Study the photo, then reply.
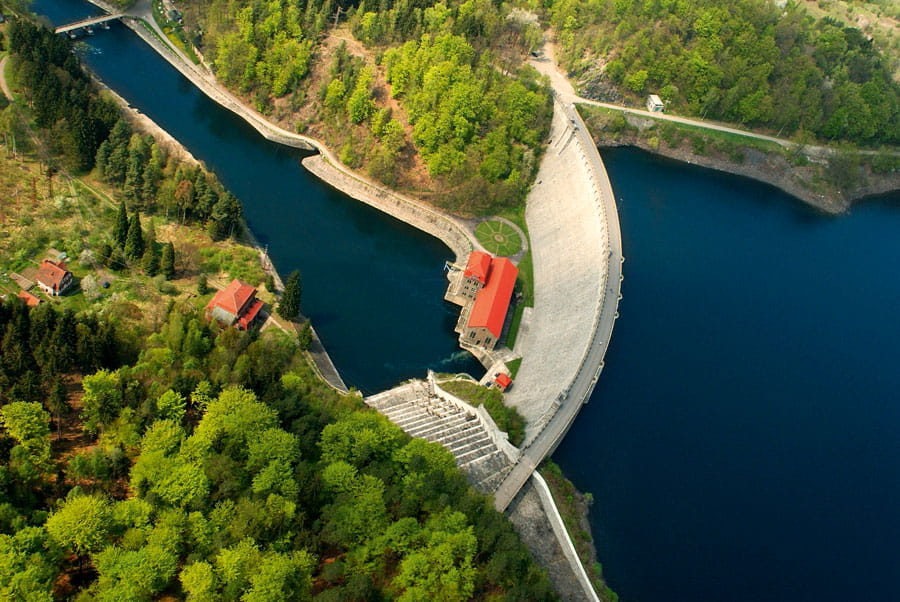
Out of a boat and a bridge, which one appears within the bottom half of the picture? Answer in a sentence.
The one visible within the bottom half of the picture is a bridge.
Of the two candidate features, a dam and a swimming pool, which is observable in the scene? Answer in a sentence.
It is a dam that can be seen here.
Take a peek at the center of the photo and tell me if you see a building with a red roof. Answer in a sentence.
Yes, you'll find a building with a red roof at the center of the photo.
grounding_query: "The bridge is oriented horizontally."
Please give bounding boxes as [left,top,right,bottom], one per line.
[54,11,127,42]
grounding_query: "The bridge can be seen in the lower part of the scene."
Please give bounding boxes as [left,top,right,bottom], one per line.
[485,453,535,519]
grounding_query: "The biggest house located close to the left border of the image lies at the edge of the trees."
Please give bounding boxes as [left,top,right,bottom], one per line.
[34,262,77,296]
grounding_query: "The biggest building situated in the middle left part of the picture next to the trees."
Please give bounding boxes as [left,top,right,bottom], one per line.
[203,282,265,337]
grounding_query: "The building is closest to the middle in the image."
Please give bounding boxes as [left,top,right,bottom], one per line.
[450,249,519,351]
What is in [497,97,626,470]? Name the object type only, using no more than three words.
dam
